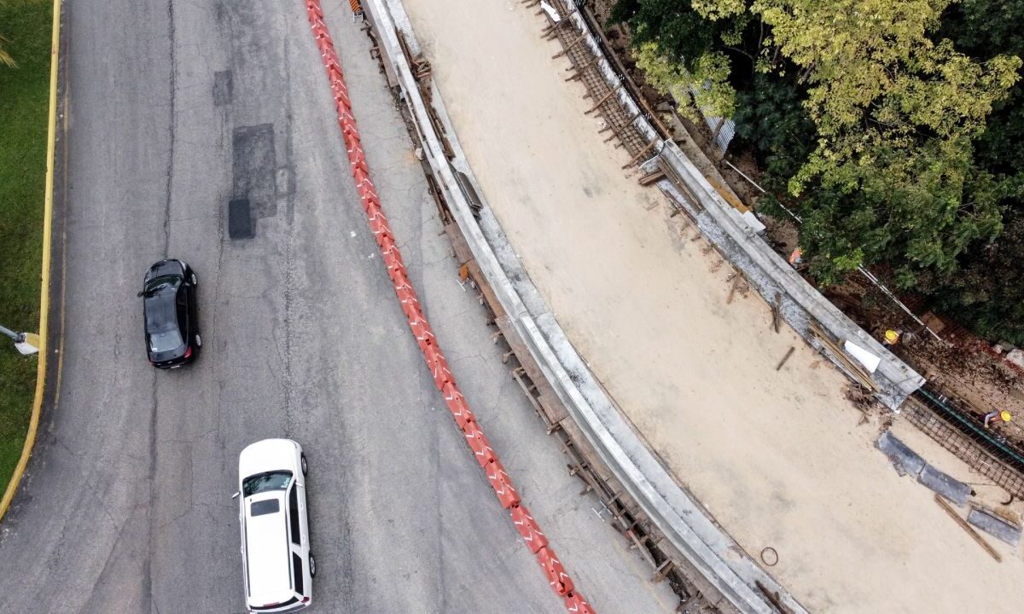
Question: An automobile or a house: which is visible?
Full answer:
Of the two, only an automobile appears.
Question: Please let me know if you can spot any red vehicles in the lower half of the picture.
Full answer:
No, no red vehicle is visible in the lower half of the picture.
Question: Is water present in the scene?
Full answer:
No, the scene doesn't show any water.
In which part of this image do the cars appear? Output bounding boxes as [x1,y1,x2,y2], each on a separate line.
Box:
[132,255,205,373]
[230,437,314,614]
